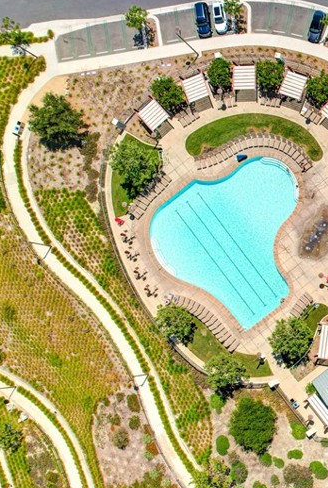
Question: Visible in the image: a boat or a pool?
pool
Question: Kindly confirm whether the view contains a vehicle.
Yes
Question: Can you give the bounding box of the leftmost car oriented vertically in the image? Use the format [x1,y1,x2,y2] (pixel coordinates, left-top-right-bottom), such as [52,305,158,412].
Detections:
[193,2,215,39]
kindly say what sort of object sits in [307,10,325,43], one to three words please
car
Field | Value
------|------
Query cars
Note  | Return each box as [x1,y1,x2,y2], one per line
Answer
[307,10,325,43]
[193,2,215,39]
[209,2,228,35]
